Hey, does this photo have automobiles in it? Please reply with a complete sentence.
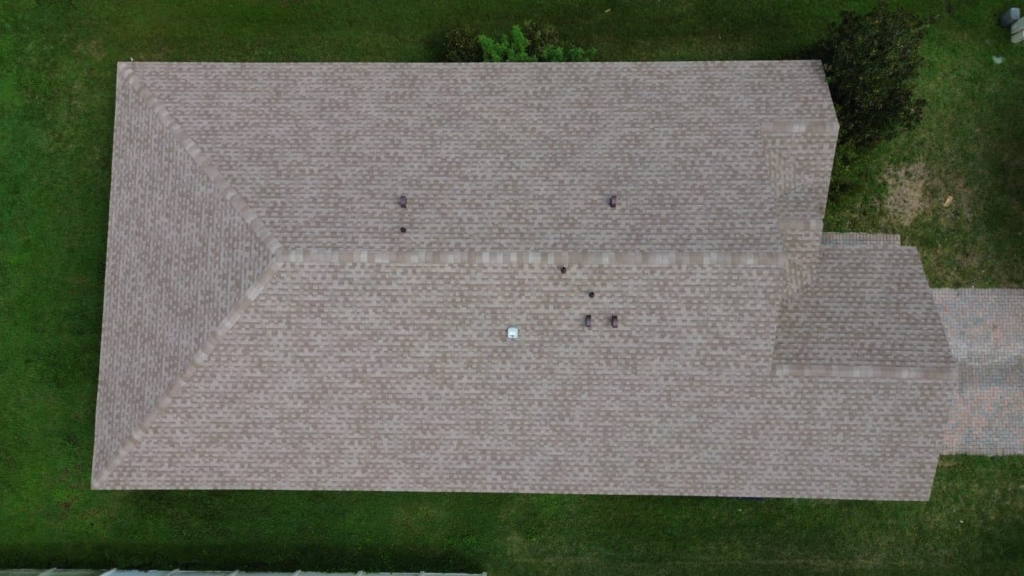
No, the scene contains no automobile.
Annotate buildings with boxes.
[90,58,959,501]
